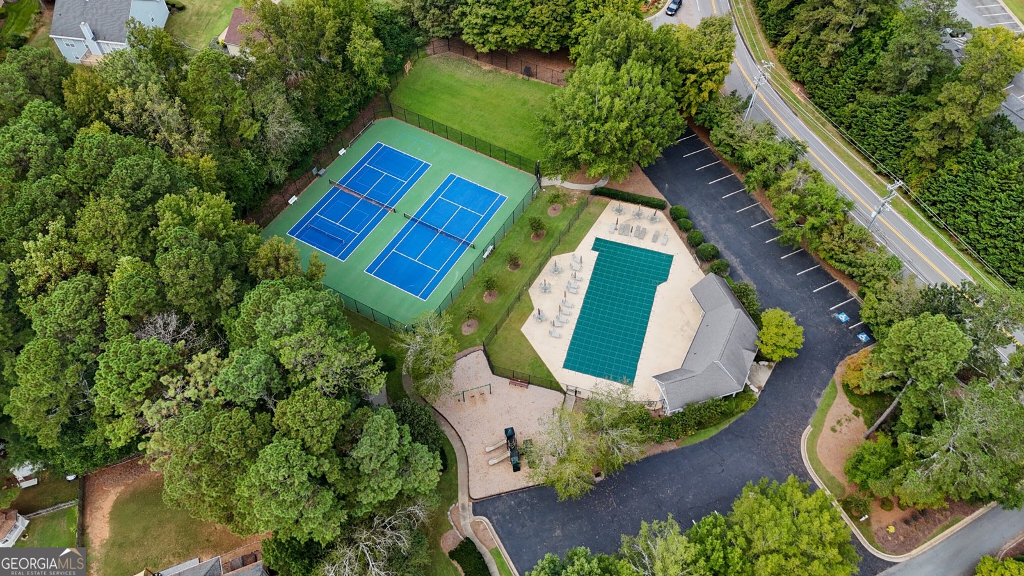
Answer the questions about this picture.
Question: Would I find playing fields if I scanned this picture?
Yes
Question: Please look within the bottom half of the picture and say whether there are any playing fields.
No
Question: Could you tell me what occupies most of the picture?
trees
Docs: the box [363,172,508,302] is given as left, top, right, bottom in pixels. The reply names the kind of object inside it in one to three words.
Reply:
tennis court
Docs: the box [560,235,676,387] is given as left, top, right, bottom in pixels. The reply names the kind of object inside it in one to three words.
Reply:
swimming pool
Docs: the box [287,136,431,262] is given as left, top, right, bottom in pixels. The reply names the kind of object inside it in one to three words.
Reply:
tennis court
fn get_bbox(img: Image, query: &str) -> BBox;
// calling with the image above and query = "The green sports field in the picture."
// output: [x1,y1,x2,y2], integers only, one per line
[394,53,631,176]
